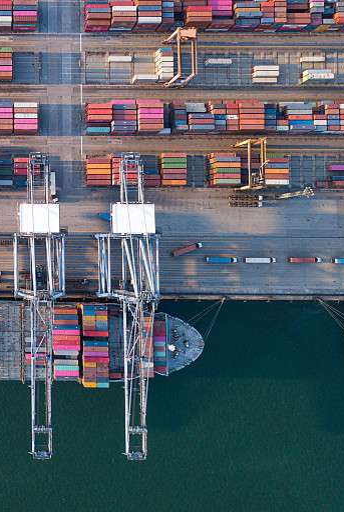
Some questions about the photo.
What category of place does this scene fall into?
port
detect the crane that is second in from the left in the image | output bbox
[92,149,163,460]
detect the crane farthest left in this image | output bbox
[9,149,70,460]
